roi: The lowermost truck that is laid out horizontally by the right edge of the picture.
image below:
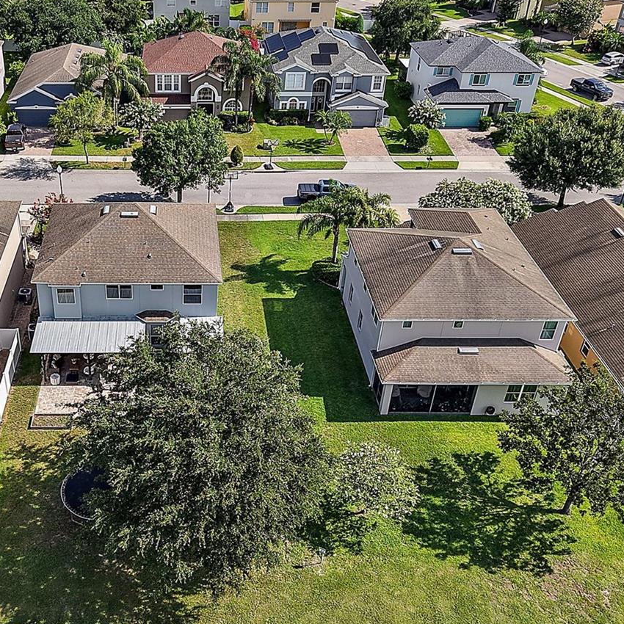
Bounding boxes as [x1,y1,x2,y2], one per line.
[567,73,615,95]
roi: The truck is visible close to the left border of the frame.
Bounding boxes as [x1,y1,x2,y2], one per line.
[0,125,28,150]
